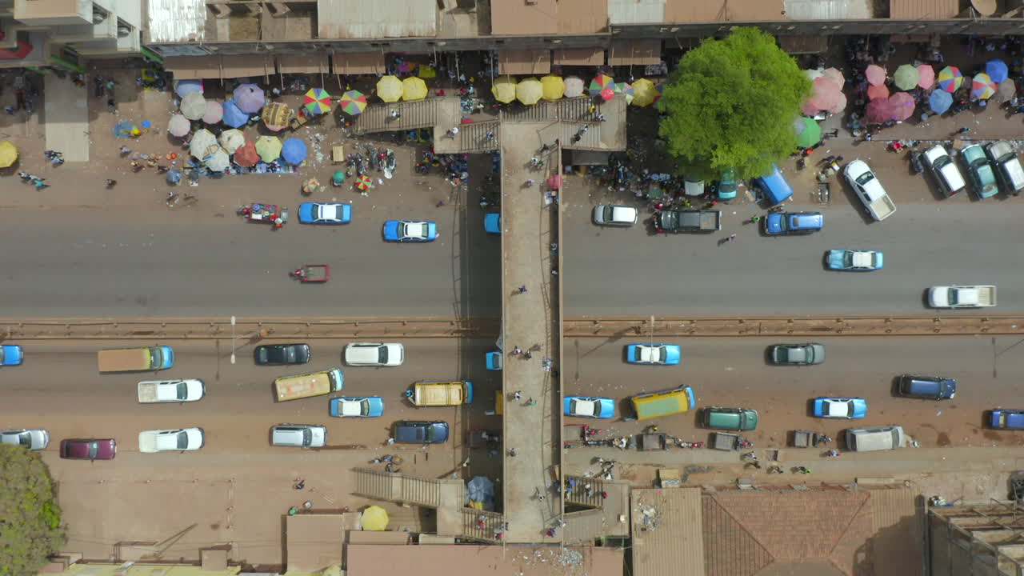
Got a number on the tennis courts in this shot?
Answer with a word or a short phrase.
none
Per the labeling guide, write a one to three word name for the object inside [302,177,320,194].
umbrella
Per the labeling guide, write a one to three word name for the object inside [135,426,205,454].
truck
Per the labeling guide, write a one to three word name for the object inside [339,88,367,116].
umbrella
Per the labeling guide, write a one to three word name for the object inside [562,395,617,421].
car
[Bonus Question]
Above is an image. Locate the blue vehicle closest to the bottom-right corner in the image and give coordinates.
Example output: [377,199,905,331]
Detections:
[985,407,1024,429]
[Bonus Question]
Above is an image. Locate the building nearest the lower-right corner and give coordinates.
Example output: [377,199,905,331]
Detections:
[929,501,1024,576]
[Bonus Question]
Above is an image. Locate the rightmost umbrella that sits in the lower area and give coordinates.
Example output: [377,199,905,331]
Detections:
[466,475,494,503]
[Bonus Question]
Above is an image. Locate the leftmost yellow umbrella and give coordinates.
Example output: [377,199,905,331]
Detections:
[0,141,30,167]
